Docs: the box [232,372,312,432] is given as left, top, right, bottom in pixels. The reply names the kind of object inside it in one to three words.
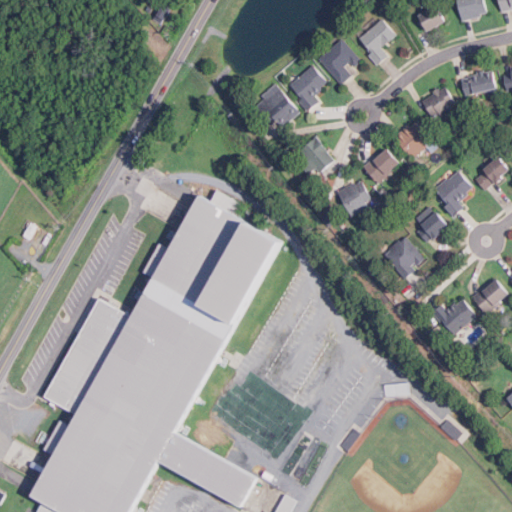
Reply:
tennis court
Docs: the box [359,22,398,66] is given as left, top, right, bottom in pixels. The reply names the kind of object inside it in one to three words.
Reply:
house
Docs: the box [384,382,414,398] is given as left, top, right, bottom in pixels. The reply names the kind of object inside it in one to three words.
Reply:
building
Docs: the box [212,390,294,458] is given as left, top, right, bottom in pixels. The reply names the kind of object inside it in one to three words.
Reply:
tennis court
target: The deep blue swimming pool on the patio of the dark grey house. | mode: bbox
[467,326,483,344]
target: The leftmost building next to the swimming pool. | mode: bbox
[434,299,476,334]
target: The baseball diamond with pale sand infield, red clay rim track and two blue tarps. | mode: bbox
[344,400,462,512]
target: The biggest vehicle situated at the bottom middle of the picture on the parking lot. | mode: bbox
[258,469,278,482]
